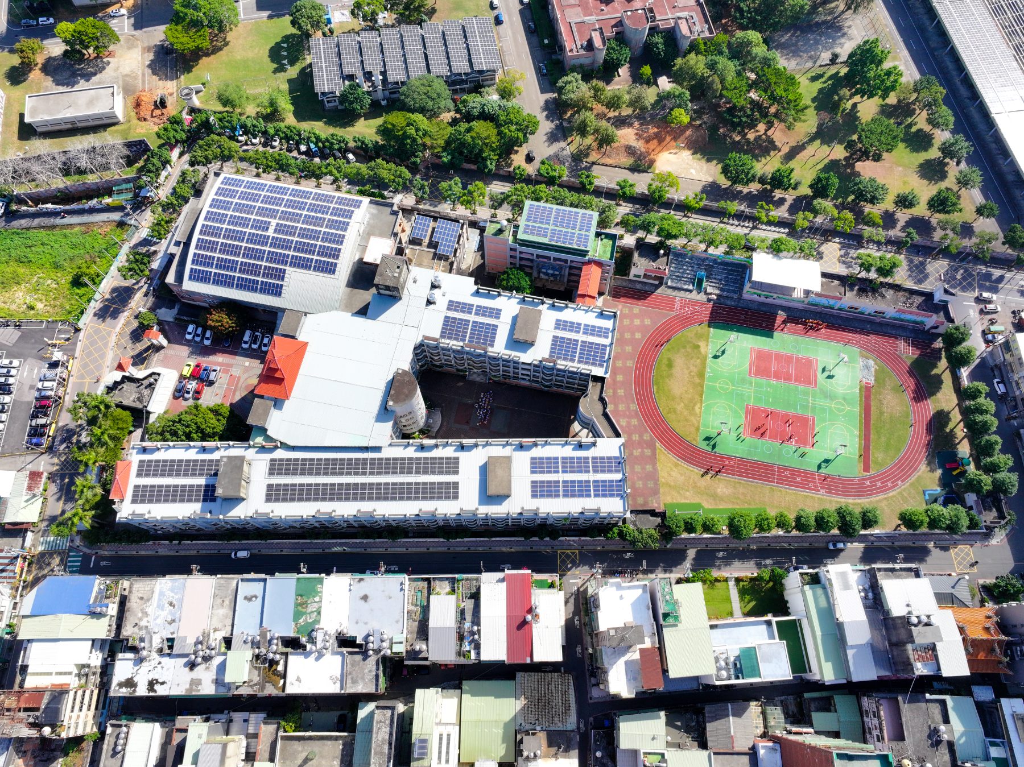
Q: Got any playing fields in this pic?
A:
Yes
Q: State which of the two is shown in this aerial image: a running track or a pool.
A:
running track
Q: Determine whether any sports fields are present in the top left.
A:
No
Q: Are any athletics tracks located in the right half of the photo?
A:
Yes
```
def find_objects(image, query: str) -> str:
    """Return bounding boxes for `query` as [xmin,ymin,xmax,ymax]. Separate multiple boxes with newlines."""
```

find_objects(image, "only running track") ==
[633,304,933,498]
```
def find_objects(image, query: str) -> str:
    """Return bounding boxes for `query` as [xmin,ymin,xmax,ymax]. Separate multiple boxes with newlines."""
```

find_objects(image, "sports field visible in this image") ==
[654,301,987,536]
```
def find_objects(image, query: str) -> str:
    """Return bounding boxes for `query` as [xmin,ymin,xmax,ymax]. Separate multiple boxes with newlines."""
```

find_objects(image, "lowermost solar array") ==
[414,739,428,757]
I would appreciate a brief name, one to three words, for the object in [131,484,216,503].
solar array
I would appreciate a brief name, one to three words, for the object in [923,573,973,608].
house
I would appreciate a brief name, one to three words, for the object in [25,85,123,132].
building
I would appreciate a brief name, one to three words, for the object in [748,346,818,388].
sports court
